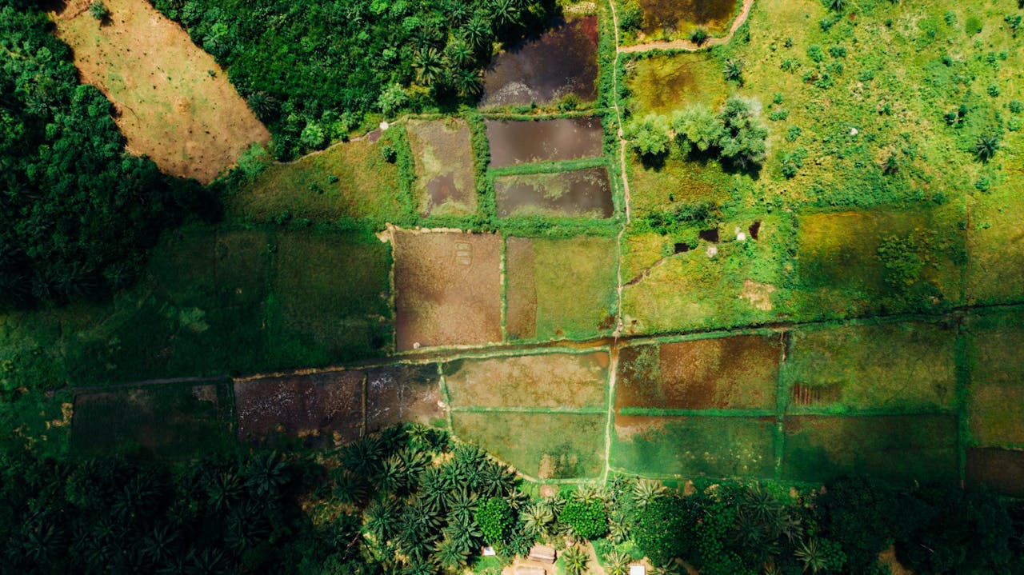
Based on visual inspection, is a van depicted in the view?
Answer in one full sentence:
No, I can see no van in this picture.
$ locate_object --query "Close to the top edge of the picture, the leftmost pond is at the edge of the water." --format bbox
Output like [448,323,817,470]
[478,13,600,107]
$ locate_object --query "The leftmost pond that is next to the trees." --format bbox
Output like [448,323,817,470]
[406,117,478,217]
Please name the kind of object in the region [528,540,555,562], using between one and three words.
shed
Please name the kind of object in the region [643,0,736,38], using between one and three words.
pond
